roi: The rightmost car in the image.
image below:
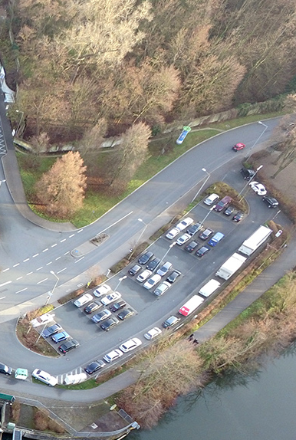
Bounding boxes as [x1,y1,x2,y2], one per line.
[260,195,282,209]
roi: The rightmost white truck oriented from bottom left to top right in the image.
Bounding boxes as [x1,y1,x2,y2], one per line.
[240,227,272,252]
